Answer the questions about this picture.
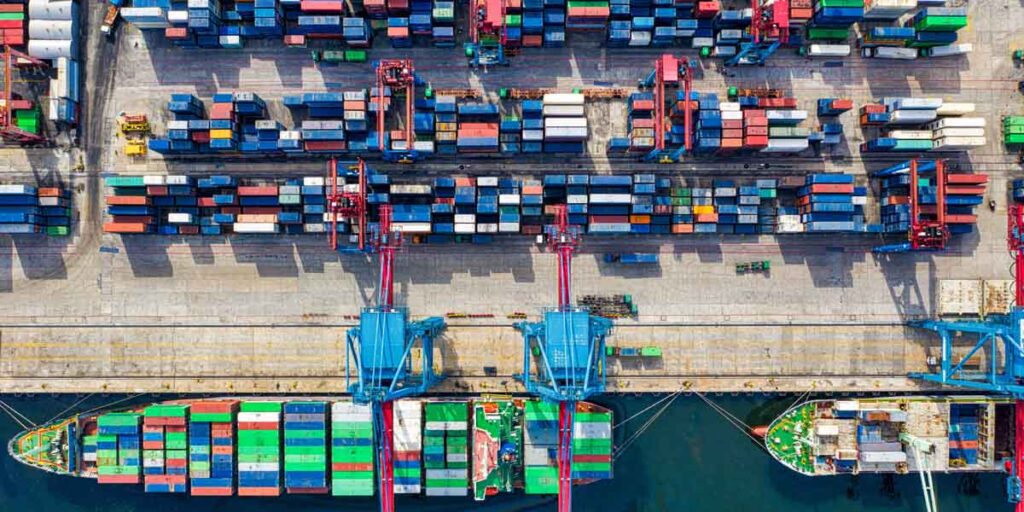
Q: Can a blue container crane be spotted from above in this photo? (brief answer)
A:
Yes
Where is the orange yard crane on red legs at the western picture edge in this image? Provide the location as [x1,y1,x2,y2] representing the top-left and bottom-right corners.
[0,45,55,145]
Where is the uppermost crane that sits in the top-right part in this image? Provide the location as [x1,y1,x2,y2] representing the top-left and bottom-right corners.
[727,0,795,67]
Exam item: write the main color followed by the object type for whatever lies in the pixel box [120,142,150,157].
yellow work vehicle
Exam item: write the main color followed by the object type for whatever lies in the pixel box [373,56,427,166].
red crane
